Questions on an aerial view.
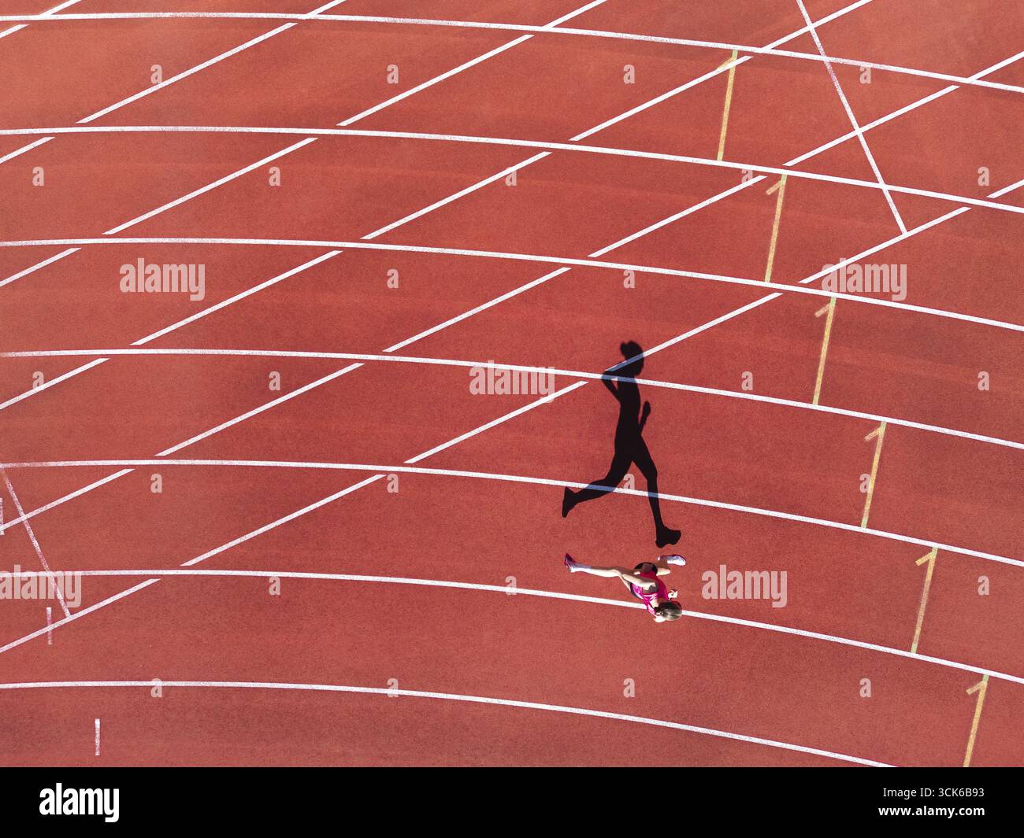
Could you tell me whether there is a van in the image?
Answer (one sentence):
No, there is no van in the image.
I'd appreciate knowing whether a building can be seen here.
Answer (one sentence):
No, I find no building anywhere in the image.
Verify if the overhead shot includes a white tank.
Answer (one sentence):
No, the picture doesn't show any white tank.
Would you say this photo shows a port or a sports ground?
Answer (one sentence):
The picture captures a sports ground.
